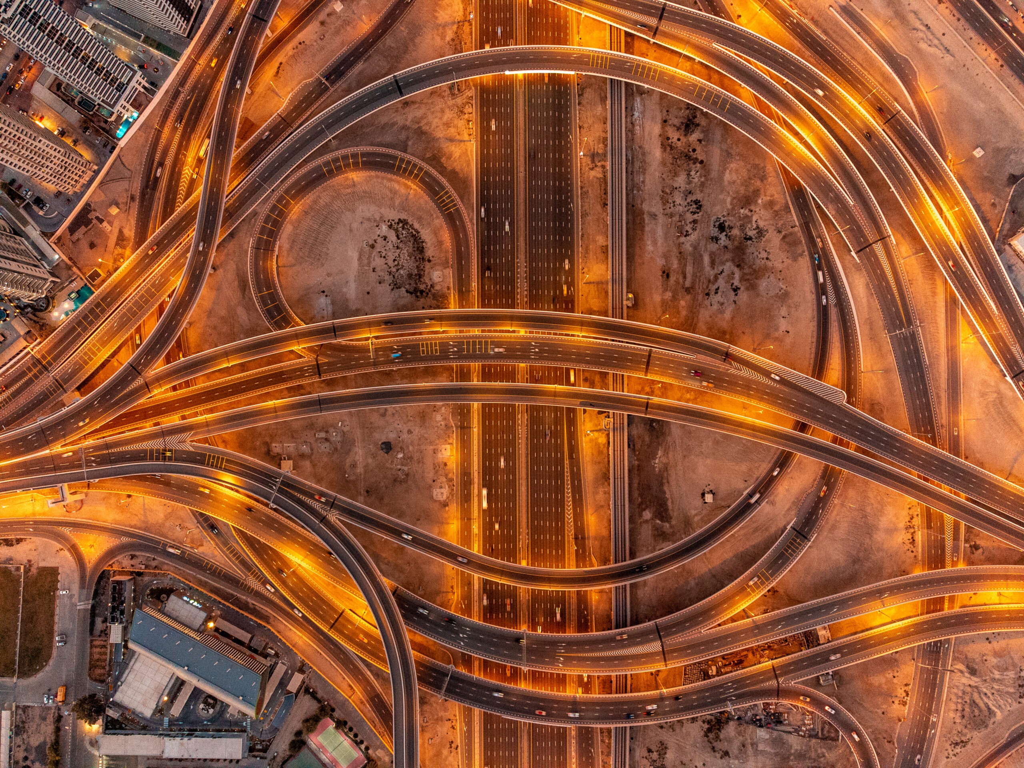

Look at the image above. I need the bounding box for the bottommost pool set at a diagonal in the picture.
[68,284,94,311]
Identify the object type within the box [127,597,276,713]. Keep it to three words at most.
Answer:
building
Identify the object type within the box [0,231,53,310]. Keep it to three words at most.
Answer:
building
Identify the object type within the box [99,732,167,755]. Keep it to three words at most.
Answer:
shed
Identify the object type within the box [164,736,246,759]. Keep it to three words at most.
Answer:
shed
